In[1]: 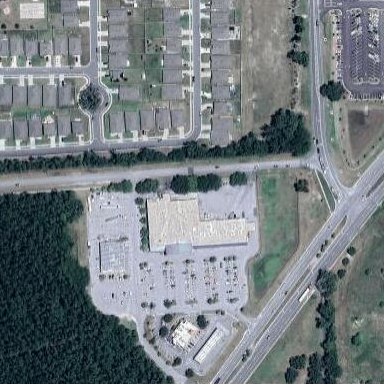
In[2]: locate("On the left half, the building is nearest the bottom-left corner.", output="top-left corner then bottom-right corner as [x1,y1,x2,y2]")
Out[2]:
[101,241,126,272]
